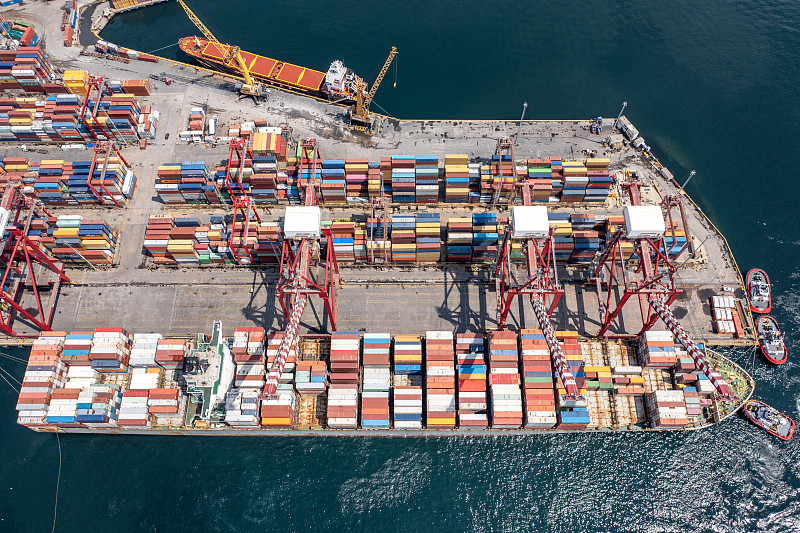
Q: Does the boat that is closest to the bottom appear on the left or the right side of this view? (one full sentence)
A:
It is on the right.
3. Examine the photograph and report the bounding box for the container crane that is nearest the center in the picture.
[370,199,388,266]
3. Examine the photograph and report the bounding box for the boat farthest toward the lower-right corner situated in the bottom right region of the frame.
[741,402,798,443]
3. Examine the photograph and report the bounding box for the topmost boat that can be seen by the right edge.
[745,269,773,313]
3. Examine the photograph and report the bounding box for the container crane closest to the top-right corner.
[659,198,695,264]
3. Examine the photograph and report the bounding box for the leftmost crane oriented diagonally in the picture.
[177,0,260,98]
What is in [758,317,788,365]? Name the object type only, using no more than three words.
boat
